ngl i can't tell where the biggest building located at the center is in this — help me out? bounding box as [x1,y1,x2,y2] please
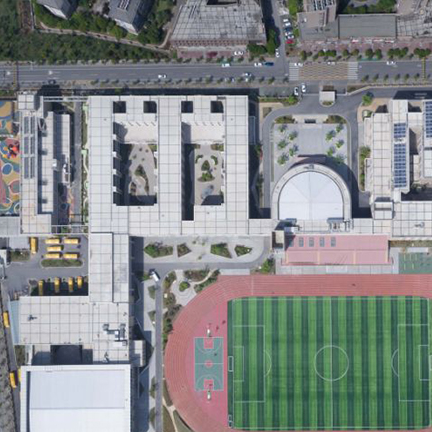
[87,95,276,303]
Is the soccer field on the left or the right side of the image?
right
